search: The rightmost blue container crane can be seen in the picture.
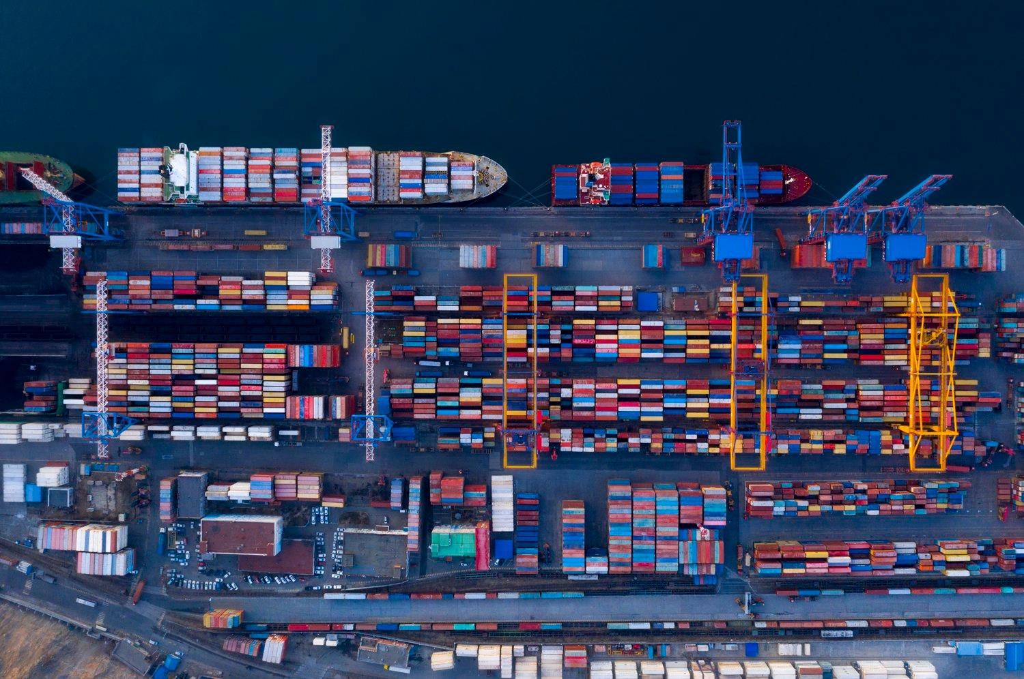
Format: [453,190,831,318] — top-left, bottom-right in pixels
[855,174,955,283]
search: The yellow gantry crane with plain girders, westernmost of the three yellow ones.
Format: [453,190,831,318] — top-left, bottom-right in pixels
[495,273,546,471]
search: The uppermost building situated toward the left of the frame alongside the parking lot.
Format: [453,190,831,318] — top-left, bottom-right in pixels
[177,469,213,519]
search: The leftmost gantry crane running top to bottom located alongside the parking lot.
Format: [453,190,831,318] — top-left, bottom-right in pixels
[79,280,152,459]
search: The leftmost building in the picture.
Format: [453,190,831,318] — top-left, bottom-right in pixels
[47,486,76,508]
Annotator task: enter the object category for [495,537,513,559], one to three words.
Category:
shed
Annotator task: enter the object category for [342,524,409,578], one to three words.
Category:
building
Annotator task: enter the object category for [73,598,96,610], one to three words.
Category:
vehicle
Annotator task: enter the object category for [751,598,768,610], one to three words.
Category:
vehicle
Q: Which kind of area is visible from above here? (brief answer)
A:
port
